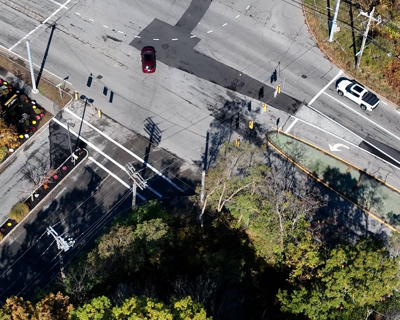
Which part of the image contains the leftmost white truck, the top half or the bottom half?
top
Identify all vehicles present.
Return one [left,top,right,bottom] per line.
[141,48,157,73]
[337,81,381,113]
